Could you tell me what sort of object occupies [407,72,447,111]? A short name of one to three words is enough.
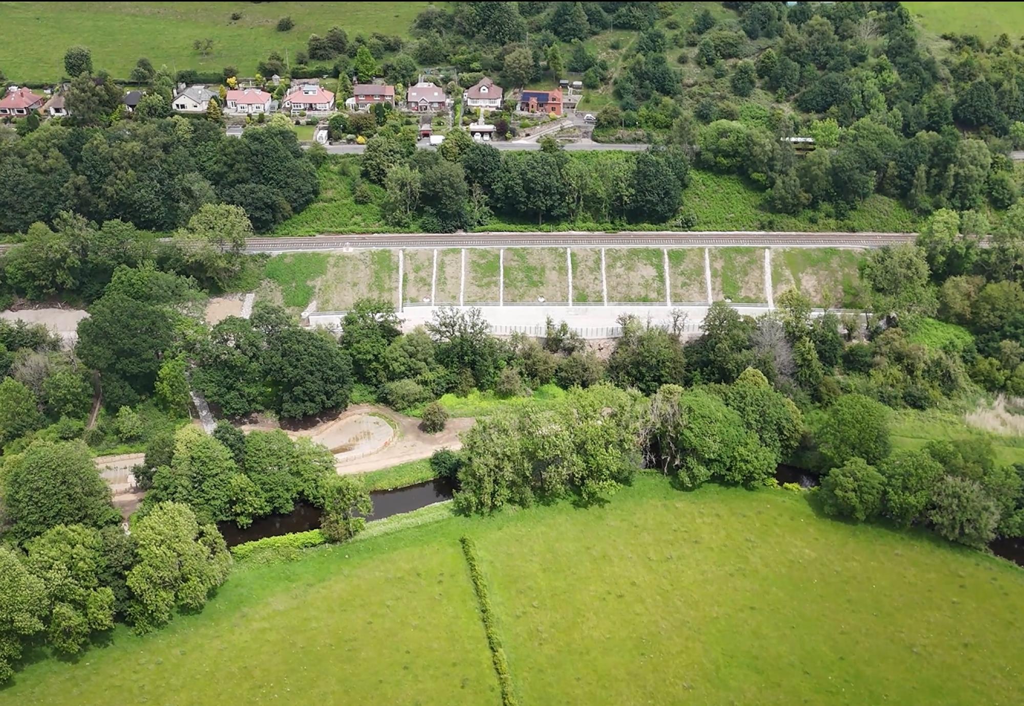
house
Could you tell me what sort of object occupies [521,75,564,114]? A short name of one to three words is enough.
house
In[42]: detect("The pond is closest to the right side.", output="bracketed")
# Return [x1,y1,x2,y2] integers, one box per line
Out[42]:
[307,413,393,461]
